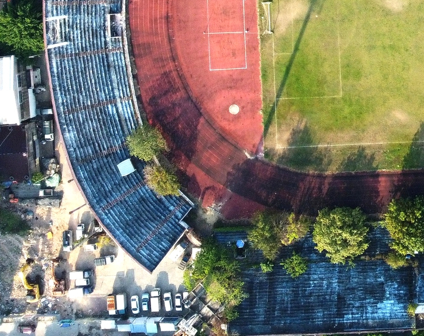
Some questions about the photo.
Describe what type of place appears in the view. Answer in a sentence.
This looks like a sports ground.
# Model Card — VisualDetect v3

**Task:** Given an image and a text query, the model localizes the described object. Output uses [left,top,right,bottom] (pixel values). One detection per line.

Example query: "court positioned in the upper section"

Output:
[207,0,247,71]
